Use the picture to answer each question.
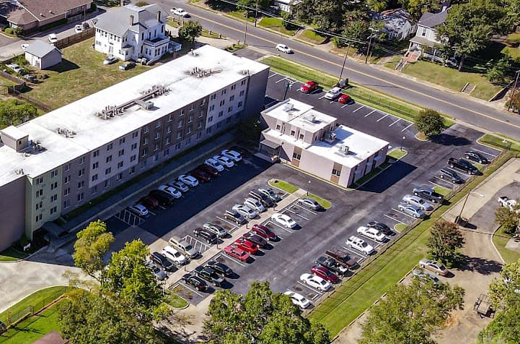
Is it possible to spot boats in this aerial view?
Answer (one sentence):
No, no boat can be seen from above.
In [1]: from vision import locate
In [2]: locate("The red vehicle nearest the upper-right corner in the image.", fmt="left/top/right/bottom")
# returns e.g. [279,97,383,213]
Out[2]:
[336,91,353,104]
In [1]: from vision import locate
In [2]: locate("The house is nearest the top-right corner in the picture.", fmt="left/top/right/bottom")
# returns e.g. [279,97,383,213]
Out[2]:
[404,14,449,59]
